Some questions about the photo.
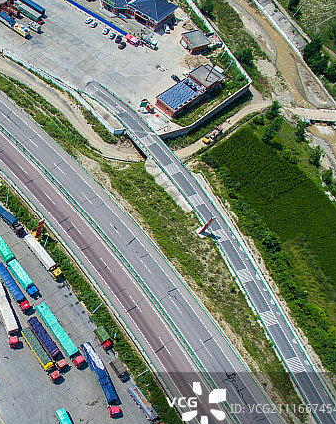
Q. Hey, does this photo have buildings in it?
Yes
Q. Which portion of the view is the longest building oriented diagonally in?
top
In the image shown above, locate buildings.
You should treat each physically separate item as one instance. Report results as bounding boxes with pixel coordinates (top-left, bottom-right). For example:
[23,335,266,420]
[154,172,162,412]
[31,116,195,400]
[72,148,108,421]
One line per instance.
[155,62,225,119]
[178,29,212,58]
[100,0,179,30]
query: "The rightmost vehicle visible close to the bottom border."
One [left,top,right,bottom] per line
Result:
[125,384,161,424]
